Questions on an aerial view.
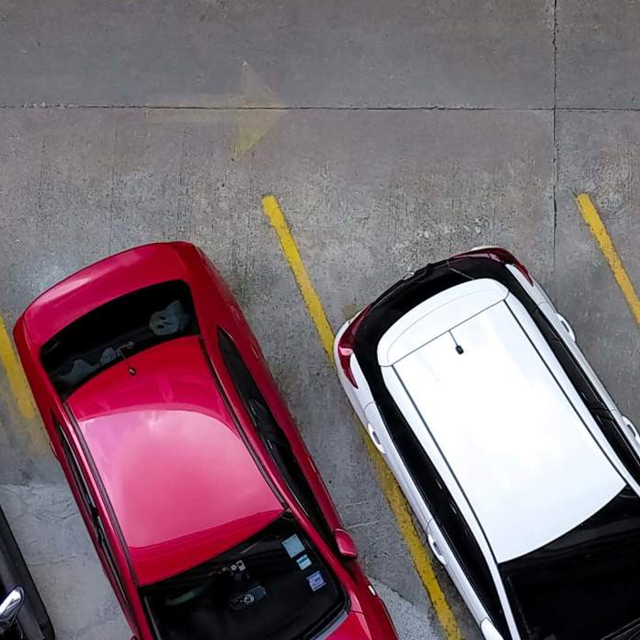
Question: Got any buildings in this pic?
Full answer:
No, there is no building in the image.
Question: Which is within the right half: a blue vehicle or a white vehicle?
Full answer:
Looking within the right half, you will find a white vehicle.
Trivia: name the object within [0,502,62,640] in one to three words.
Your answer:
car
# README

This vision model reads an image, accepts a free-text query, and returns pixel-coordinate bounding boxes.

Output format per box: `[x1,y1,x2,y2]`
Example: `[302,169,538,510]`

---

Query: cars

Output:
[13,240,406,640]
[338,246,640,640]
[0,502,62,640]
